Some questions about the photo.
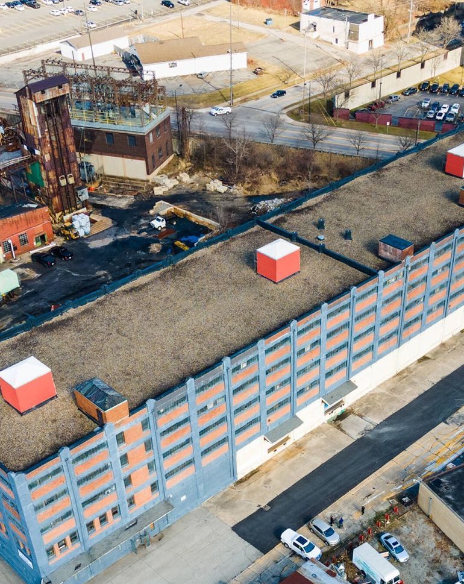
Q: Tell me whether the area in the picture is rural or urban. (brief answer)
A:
urban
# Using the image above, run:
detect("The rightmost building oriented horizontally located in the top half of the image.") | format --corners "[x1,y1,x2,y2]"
[300,7,384,53]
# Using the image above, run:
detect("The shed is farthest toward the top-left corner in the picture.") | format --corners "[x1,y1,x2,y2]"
[59,27,129,61]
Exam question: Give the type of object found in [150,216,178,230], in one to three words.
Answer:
vehicle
